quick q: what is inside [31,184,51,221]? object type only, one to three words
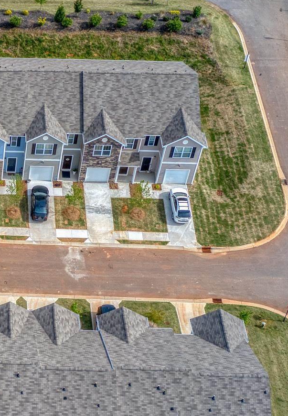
car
